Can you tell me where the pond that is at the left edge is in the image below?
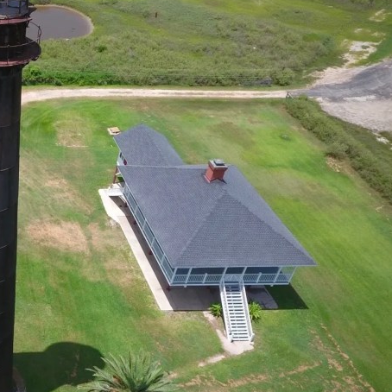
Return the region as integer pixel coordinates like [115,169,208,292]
[0,4,95,41]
